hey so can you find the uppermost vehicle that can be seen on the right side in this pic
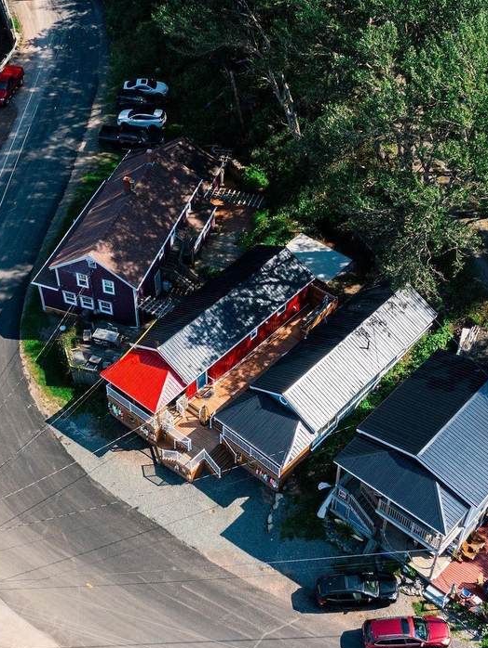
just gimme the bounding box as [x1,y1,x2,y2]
[314,560,406,606]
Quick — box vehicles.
[0,62,27,103]
[119,74,171,98]
[115,106,170,130]
[354,605,453,648]
[314,560,406,606]
[113,89,165,111]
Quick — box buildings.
[30,129,220,333]
[214,280,439,491]
[99,244,317,441]
[318,346,488,575]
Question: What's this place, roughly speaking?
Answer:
residential area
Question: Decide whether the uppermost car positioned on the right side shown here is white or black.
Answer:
black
